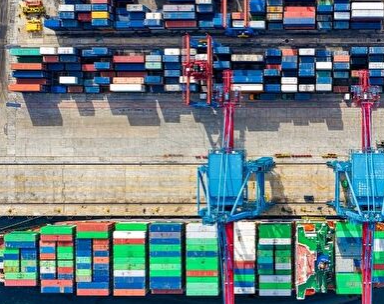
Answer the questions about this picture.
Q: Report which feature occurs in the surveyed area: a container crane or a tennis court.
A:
container crane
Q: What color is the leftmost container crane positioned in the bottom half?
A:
blue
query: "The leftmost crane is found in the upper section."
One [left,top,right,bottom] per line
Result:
[183,34,228,108]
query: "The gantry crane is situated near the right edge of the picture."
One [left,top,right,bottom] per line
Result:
[327,72,384,304]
